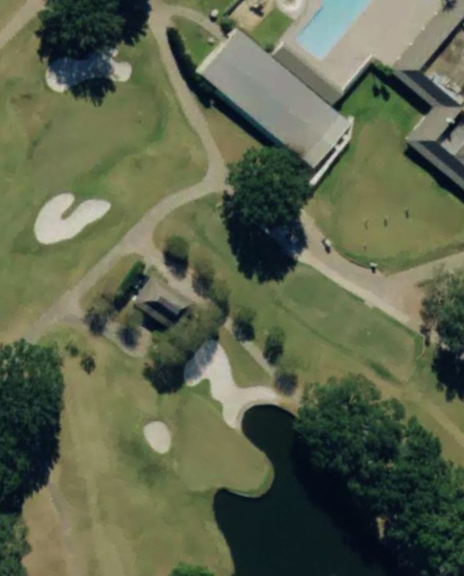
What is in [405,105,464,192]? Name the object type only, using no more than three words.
building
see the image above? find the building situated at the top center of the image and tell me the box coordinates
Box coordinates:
[195,28,357,190]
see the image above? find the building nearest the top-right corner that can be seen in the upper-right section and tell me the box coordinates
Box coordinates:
[394,69,464,110]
